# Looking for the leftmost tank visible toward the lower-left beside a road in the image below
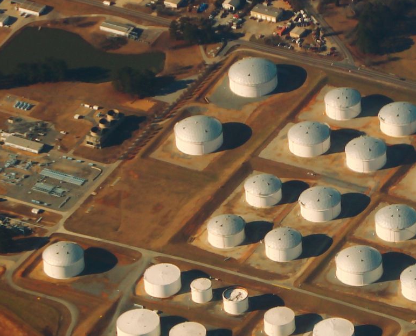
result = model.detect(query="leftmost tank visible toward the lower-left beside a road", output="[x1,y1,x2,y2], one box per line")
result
[39,241,86,281]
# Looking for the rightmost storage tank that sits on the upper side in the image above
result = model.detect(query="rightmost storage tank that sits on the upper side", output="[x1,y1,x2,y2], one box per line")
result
[377,101,416,137]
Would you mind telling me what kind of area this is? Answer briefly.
industrial area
